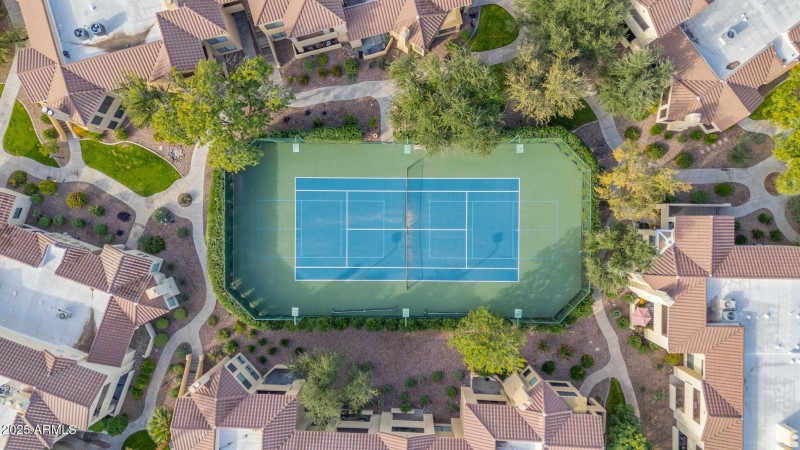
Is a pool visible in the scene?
No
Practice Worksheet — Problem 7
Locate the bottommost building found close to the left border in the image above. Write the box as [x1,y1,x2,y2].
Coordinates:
[0,190,194,450]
